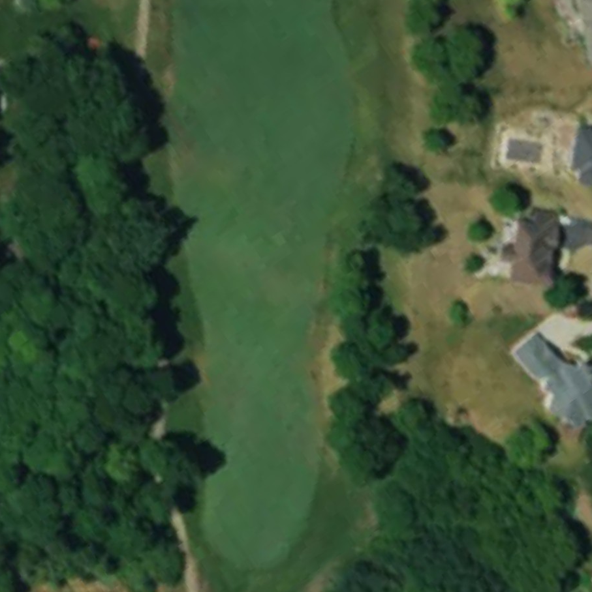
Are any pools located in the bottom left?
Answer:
No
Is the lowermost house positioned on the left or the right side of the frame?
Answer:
right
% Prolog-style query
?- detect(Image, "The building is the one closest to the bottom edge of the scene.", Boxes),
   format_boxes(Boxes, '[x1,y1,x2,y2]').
[517,333,592,428]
